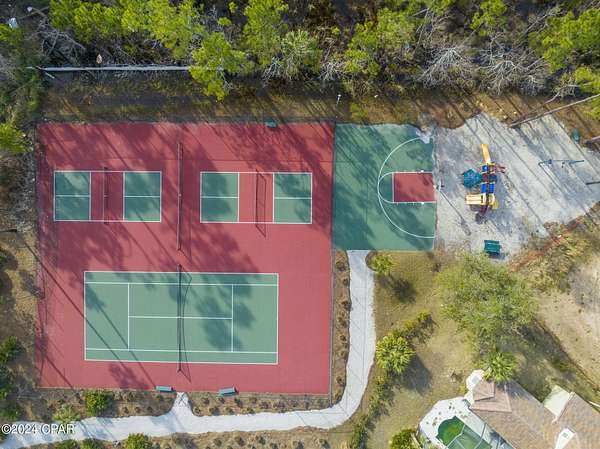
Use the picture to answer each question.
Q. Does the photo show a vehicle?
No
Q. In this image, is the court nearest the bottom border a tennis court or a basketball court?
tennis court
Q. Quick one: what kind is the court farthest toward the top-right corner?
basketball court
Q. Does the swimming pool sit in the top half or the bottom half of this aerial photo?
bottom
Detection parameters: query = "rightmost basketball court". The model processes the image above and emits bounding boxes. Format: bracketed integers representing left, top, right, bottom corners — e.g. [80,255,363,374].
[333,124,435,250]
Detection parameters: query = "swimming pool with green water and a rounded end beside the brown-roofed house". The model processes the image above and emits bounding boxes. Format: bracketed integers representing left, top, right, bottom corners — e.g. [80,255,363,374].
[437,416,495,449]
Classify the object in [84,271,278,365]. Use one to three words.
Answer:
tennis court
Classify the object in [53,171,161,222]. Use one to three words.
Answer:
sports court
